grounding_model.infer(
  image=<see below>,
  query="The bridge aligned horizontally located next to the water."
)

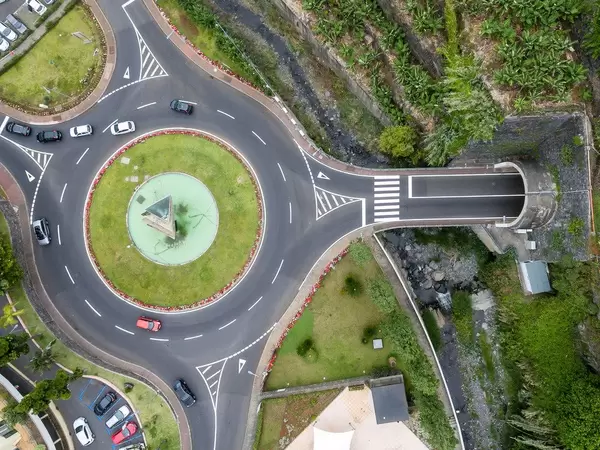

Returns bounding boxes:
[326,154,524,234]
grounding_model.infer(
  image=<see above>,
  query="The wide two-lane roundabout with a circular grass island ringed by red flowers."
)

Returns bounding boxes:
[33,79,316,362]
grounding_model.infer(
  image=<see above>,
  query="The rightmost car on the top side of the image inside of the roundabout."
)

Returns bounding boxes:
[169,99,195,115]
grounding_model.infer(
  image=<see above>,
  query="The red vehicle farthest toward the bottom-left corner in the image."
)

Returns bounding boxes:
[111,421,138,445]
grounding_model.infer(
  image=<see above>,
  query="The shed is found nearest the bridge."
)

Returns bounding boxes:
[517,261,552,294]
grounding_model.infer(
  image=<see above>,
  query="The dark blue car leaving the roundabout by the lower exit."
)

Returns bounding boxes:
[174,378,196,407]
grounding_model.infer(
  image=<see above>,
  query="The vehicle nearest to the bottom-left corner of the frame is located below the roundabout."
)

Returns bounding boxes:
[75,417,95,446]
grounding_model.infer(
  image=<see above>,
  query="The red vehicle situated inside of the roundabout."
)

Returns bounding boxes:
[136,316,162,332]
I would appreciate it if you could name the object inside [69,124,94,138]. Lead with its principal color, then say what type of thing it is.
white vehicle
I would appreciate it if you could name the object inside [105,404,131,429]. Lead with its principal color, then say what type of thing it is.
white car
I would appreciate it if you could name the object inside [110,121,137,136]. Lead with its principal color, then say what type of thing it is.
white car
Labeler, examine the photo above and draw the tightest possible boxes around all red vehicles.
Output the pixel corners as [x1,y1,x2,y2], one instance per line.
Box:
[111,421,138,445]
[136,316,162,332]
